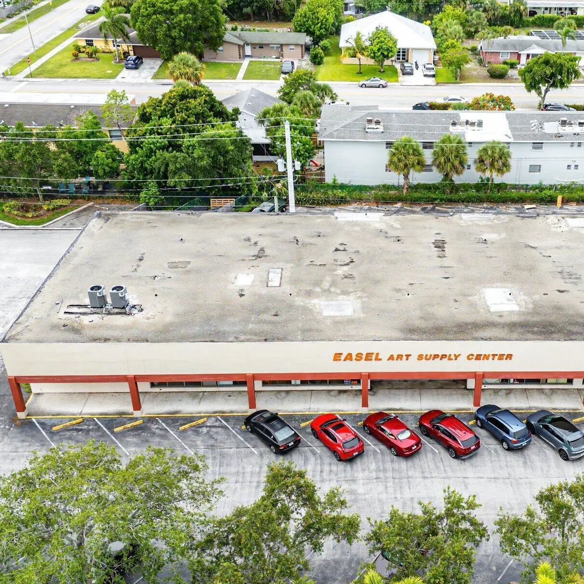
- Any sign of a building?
Yes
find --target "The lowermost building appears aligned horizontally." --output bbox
[0,208,584,419]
